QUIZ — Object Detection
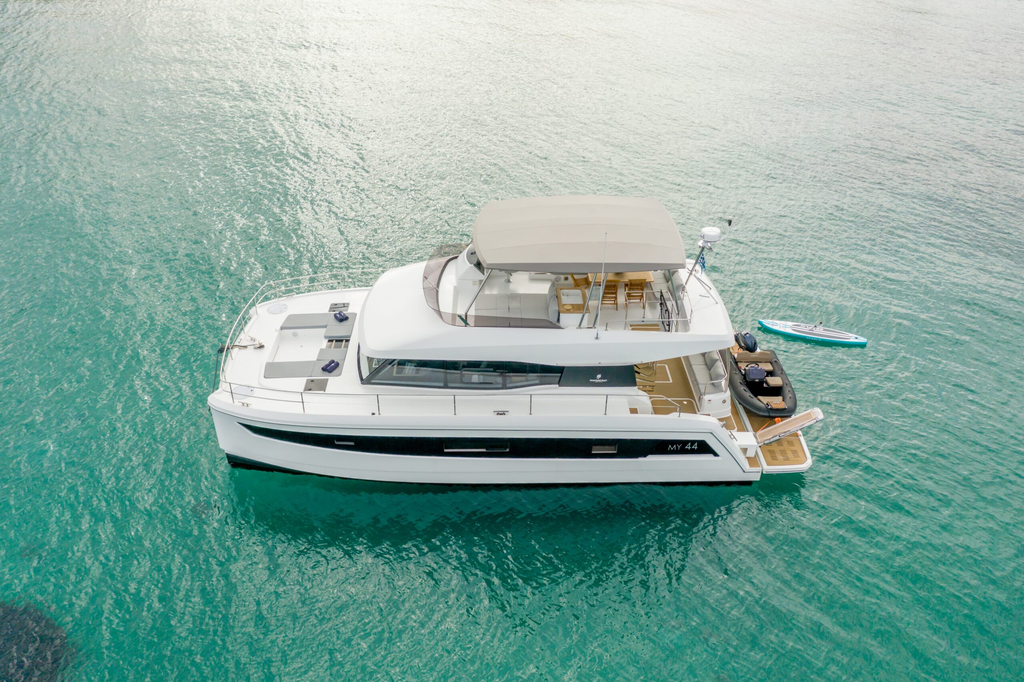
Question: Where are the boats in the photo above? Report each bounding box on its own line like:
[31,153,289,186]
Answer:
[207,199,812,485]
[719,322,799,420]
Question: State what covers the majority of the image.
water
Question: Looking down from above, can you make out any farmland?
No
